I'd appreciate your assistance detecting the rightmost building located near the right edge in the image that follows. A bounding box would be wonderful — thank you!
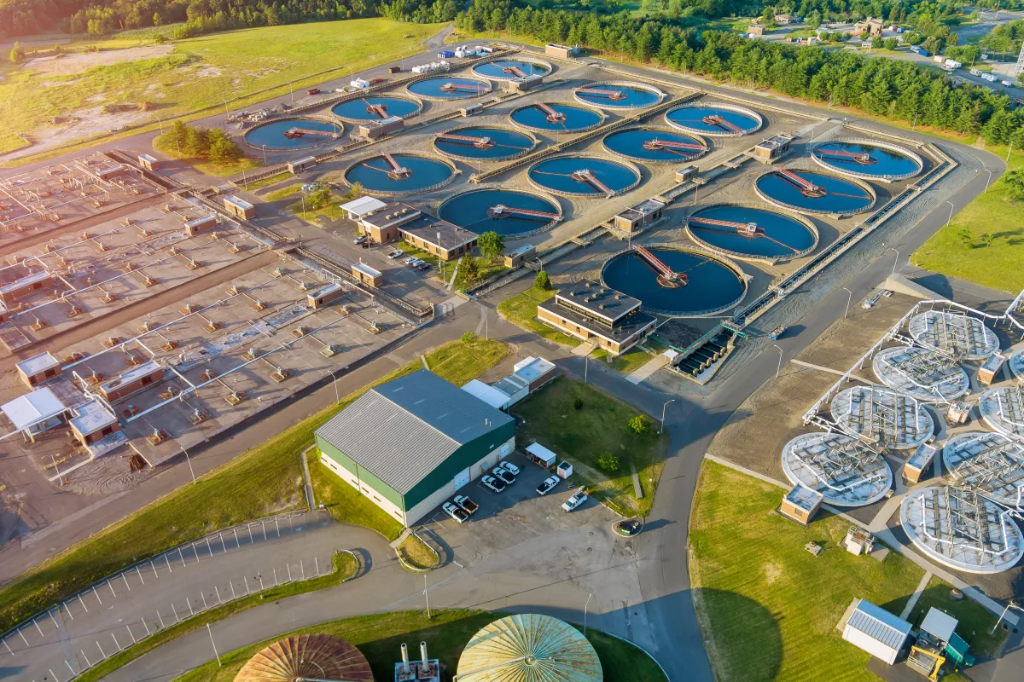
[974,352,1006,383]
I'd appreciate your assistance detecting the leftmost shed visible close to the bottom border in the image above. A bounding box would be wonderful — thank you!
[842,598,913,665]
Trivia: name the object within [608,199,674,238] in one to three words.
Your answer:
building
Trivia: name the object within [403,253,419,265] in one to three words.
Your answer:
vehicle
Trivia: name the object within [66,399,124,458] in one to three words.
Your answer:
shed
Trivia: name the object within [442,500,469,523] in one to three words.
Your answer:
truck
